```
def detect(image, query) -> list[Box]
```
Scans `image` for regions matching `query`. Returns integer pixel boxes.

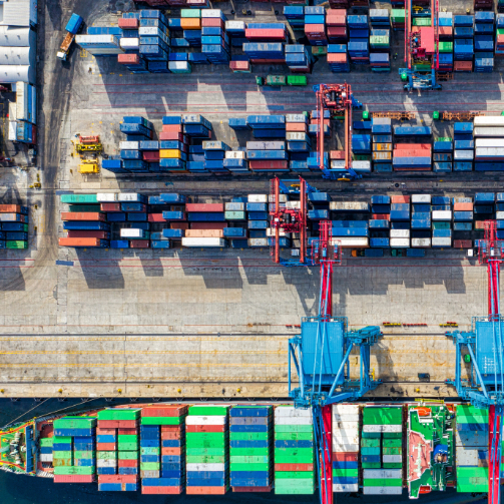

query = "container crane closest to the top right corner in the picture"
[397,0,441,90]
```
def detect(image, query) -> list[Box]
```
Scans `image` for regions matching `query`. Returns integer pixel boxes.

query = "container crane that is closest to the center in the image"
[268,179,320,268]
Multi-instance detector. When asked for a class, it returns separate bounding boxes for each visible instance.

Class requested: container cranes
[313,84,362,182]
[444,219,504,504]
[282,219,383,504]
[397,0,441,90]
[268,179,320,268]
